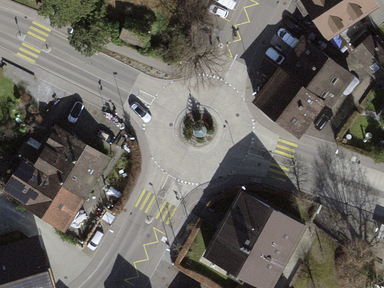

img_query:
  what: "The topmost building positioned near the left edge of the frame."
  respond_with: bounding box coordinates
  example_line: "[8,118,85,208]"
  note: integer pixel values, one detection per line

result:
[4,124,110,230]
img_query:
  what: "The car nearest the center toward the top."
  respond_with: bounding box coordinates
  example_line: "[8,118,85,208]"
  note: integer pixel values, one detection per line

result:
[131,99,151,120]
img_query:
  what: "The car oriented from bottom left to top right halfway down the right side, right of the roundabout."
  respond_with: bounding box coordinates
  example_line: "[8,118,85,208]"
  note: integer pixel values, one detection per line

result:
[314,106,332,130]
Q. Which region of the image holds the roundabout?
center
